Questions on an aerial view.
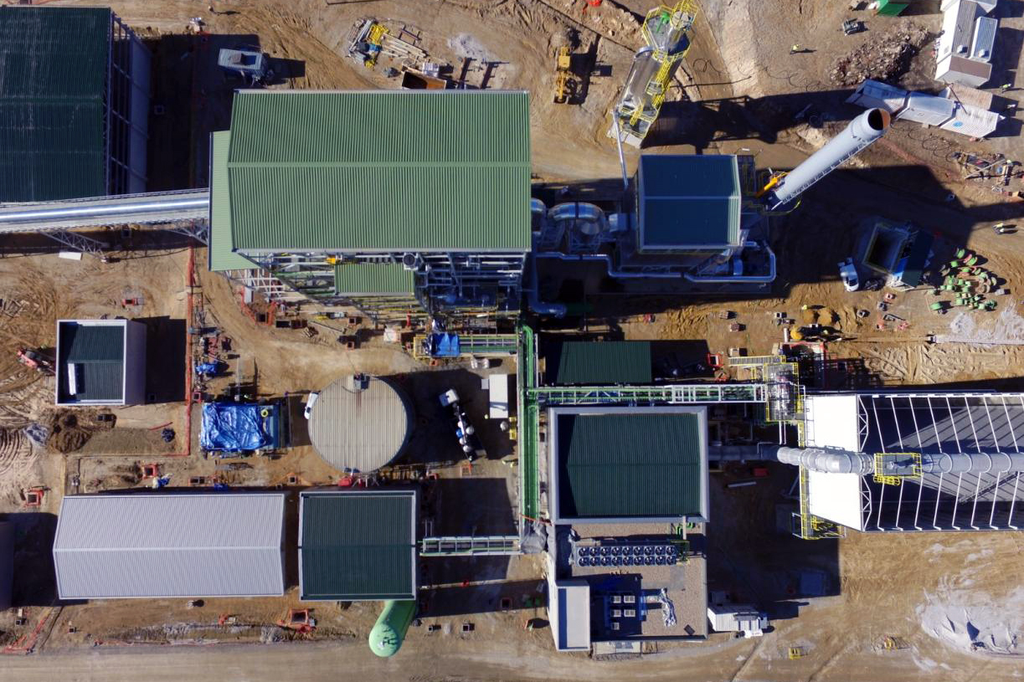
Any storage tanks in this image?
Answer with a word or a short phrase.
Yes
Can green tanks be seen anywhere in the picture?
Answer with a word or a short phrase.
Yes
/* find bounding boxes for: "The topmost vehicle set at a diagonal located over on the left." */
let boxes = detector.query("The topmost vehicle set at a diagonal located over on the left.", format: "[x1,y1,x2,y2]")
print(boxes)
[14,348,54,378]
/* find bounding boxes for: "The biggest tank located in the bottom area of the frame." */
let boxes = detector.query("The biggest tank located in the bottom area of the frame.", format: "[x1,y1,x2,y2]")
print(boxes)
[307,374,417,476]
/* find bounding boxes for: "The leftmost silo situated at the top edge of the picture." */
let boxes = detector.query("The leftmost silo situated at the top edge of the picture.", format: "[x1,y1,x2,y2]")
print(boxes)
[605,0,707,137]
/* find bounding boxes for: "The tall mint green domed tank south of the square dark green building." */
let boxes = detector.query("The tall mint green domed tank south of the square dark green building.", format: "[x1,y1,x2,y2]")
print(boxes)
[370,596,419,654]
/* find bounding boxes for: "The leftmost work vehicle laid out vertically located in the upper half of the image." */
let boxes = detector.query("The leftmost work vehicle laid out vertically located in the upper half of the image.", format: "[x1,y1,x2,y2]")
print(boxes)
[556,50,574,103]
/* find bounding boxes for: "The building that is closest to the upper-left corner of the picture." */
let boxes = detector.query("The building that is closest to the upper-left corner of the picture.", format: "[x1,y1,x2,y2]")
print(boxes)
[0,8,155,205]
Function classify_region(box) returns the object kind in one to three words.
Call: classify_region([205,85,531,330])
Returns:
building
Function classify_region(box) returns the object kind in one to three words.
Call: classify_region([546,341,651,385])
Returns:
shed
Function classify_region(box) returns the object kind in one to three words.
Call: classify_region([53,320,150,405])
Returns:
building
